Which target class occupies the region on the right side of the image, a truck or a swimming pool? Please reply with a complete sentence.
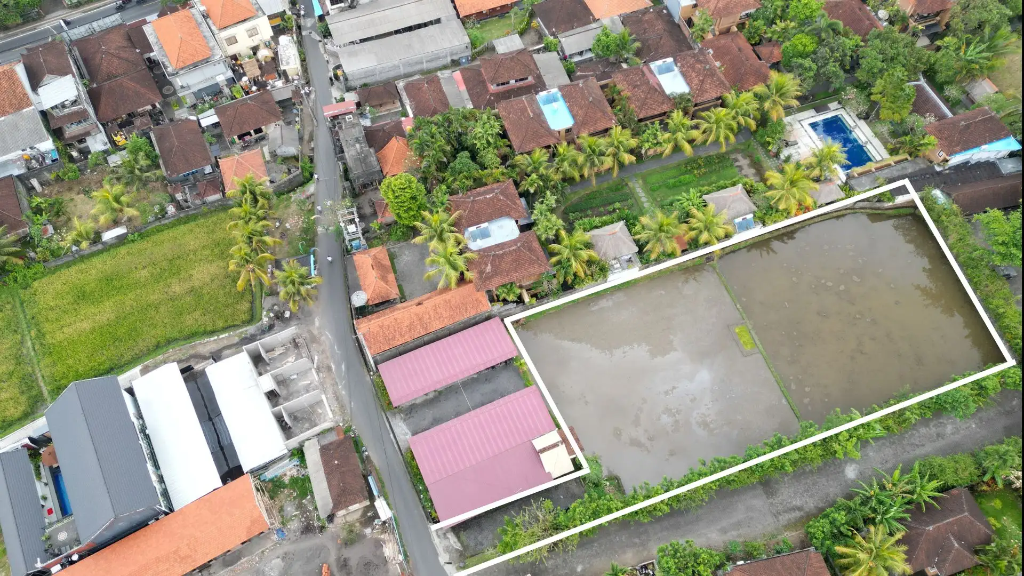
It is a swimming pool that can be seen on the right side of the image.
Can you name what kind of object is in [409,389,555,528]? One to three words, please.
shed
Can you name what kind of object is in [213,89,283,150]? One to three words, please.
house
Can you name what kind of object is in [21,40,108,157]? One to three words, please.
house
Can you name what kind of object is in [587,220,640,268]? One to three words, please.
shed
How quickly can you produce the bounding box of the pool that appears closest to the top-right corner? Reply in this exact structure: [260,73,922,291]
[781,103,893,181]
